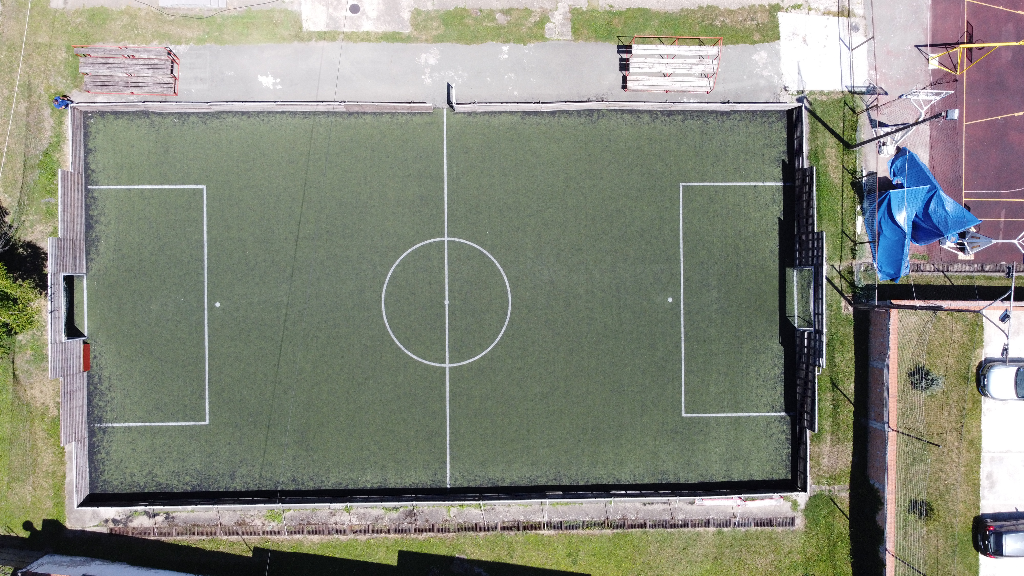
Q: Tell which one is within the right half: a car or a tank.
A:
car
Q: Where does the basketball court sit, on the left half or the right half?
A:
right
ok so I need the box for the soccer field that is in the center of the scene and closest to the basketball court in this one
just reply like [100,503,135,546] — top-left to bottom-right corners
[64,109,818,502]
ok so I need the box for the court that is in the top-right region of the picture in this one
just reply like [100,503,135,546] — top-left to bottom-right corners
[930,0,1024,264]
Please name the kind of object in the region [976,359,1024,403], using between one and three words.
car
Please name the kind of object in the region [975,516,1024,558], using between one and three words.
car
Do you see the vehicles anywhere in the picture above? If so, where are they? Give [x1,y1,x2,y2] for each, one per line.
[975,516,1024,558]
[976,359,1024,403]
